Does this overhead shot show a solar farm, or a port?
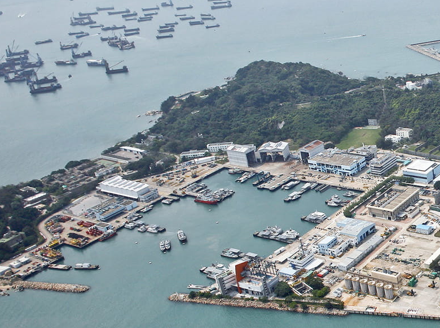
port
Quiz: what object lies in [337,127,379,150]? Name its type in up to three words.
sports field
